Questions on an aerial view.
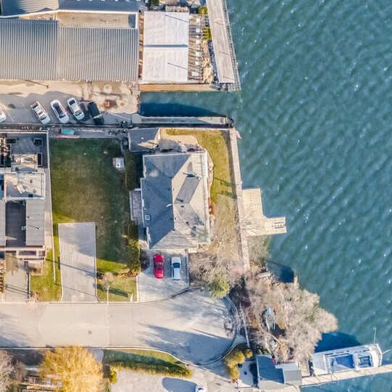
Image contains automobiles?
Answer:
Yes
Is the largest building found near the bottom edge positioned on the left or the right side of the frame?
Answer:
right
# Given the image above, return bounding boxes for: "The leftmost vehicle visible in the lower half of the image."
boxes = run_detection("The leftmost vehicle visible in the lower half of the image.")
[153,255,166,278]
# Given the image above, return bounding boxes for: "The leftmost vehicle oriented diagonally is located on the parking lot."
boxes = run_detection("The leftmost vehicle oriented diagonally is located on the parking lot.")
[30,101,49,125]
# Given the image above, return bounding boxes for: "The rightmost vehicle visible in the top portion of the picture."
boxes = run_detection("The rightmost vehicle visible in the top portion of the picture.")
[86,101,105,125]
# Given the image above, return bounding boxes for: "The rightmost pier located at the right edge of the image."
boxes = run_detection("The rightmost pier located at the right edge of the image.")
[301,364,392,385]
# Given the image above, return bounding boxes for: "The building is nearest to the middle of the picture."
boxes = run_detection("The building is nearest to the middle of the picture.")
[140,151,212,255]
